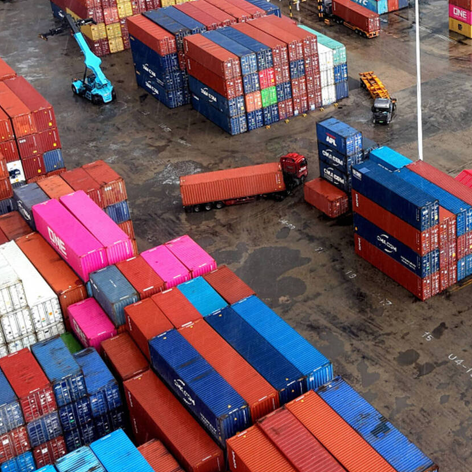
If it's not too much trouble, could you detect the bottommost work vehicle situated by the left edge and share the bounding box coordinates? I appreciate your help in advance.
[23,15,115,101]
